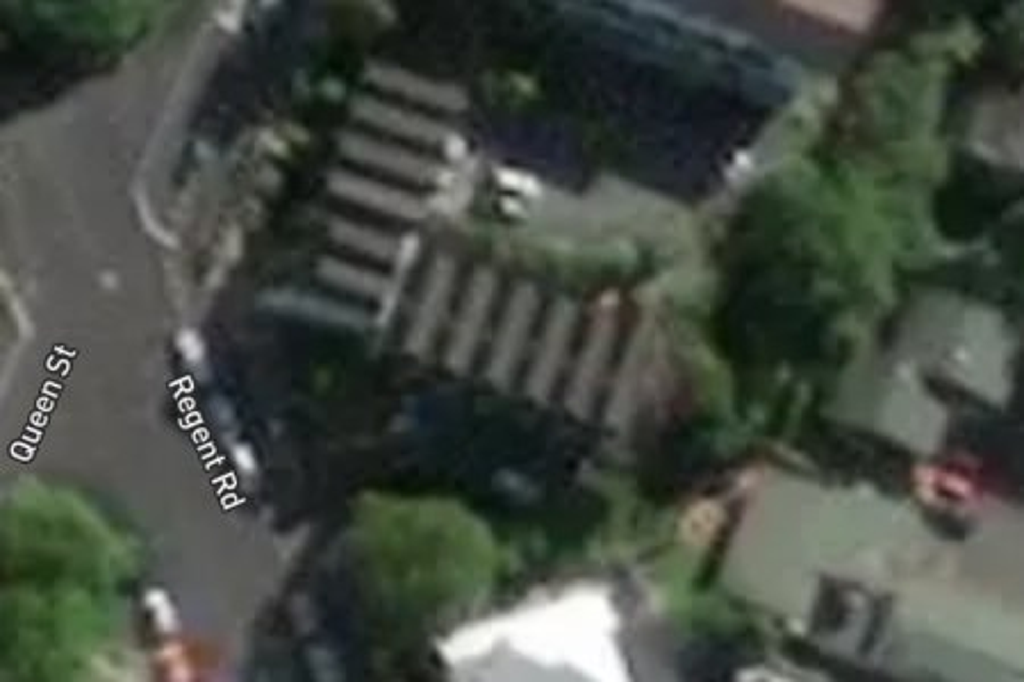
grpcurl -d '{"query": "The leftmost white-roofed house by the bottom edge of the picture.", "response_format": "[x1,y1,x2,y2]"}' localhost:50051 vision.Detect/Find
[439,580,640,682]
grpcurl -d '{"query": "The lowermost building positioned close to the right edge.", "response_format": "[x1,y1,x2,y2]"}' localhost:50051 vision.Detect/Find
[721,472,1024,682]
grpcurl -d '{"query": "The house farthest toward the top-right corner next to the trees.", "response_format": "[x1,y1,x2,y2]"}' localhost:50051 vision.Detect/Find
[966,87,1024,178]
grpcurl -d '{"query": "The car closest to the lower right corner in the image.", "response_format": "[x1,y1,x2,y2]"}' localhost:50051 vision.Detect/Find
[922,462,984,509]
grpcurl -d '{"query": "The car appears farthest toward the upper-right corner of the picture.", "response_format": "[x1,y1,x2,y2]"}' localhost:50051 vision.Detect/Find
[717,142,756,185]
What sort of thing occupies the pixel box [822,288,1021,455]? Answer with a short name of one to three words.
house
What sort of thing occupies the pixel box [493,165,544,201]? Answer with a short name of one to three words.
car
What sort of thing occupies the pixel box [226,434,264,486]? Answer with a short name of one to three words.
car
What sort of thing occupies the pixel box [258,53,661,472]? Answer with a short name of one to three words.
building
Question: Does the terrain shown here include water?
No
